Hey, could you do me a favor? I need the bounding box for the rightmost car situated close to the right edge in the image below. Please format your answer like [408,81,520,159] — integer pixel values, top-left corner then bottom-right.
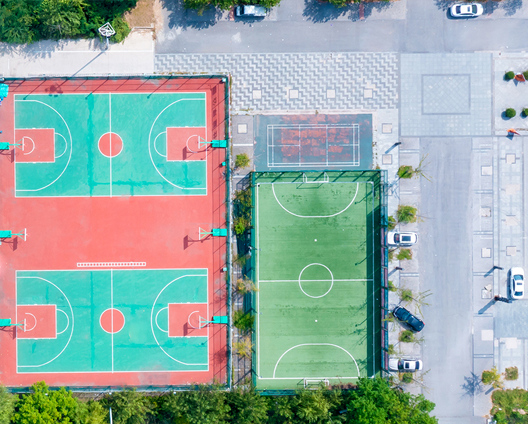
[509,267,527,300]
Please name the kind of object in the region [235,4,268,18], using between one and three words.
vehicle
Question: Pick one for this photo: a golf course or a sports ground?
sports ground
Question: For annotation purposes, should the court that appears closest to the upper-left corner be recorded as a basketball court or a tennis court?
basketball court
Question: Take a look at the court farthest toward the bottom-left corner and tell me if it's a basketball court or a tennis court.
basketball court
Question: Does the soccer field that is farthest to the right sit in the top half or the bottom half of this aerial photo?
bottom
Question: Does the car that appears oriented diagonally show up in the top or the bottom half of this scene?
bottom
